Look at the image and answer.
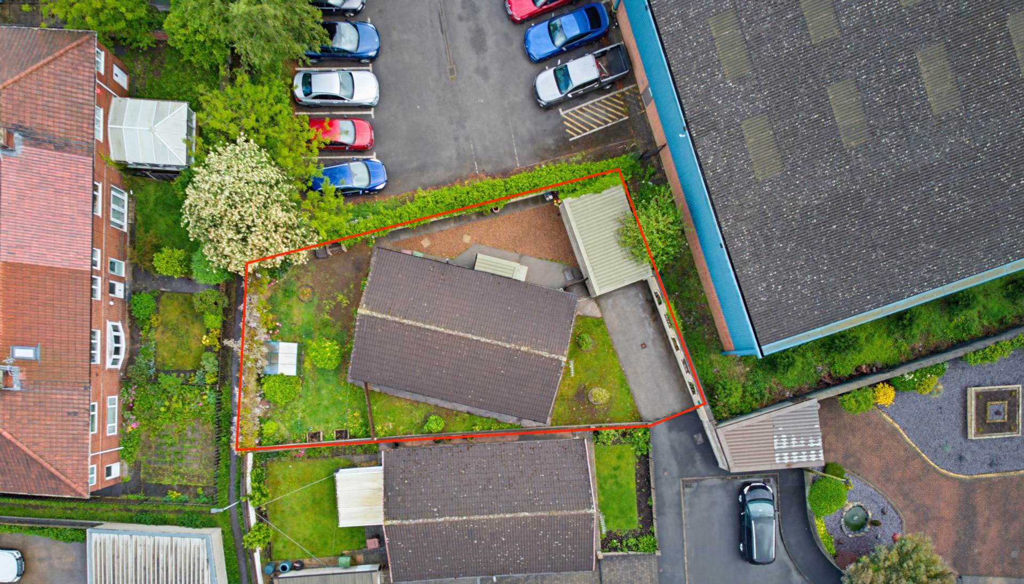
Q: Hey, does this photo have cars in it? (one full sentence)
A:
Yes, a car is visible in the scene.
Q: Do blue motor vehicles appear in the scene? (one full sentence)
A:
Yes, this view includes a blue motor vehicle.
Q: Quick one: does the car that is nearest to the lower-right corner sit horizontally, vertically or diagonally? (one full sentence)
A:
The car that is nearest to the lower-right corner is oriented vertically.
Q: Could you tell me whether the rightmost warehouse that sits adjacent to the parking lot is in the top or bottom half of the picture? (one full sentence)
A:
You can find the rightmost warehouse that sits adjacent to the parking lot in the top half.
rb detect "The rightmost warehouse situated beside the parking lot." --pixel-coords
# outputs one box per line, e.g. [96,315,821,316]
[613,0,1024,363]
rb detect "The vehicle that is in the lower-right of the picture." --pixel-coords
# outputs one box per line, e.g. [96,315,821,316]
[737,481,781,566]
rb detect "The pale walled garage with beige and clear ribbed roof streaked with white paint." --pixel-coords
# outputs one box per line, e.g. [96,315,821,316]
[707,399,824,472]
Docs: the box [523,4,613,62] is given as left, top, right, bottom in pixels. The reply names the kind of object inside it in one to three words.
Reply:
car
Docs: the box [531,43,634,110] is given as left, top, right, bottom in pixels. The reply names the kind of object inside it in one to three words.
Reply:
truck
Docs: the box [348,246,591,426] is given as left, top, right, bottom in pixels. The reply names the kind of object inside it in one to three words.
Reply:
house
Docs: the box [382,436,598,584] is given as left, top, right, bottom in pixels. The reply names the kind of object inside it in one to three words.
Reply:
house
